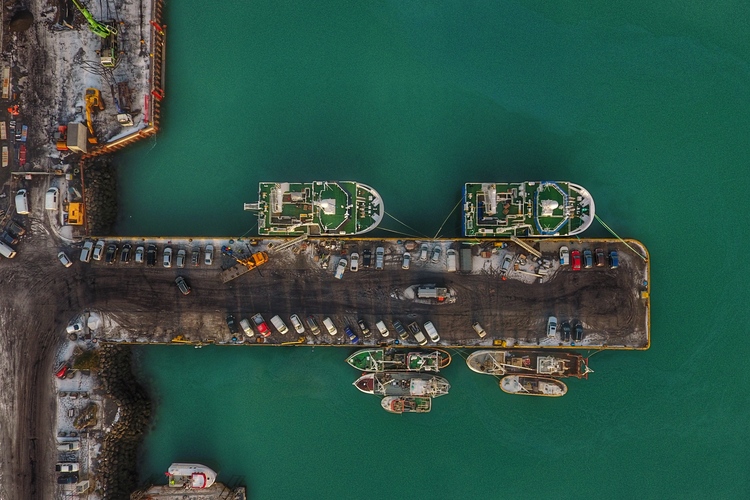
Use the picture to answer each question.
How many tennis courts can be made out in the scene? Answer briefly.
zero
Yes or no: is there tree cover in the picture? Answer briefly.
No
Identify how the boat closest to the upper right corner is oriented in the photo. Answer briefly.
from left to right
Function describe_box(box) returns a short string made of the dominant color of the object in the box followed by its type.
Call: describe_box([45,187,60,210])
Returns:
white vehicle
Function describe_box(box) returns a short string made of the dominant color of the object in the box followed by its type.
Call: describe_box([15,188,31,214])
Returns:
white vehicle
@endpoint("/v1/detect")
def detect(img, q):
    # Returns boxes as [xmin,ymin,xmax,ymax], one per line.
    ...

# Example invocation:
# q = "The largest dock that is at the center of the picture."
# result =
[92,239,650,348]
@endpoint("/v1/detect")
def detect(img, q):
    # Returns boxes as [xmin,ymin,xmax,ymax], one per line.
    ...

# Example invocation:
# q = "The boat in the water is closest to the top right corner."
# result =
[460,183,595,236]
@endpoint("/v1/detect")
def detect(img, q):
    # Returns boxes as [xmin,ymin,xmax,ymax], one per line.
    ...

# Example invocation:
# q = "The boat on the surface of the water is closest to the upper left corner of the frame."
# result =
[244,182,384,236]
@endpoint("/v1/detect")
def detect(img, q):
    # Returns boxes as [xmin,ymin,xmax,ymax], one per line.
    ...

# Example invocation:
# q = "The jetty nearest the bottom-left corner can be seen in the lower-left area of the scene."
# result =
[134,474,248,500]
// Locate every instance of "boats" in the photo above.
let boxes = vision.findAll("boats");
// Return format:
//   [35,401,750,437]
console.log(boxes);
[244,182,384,236]
[500,376,567,396]
[460,183,595,236]
[465,349,594,379]
[381,396,432,417]
[353,371,450,398]
[166,462,218,488]
[345,348,452,372]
